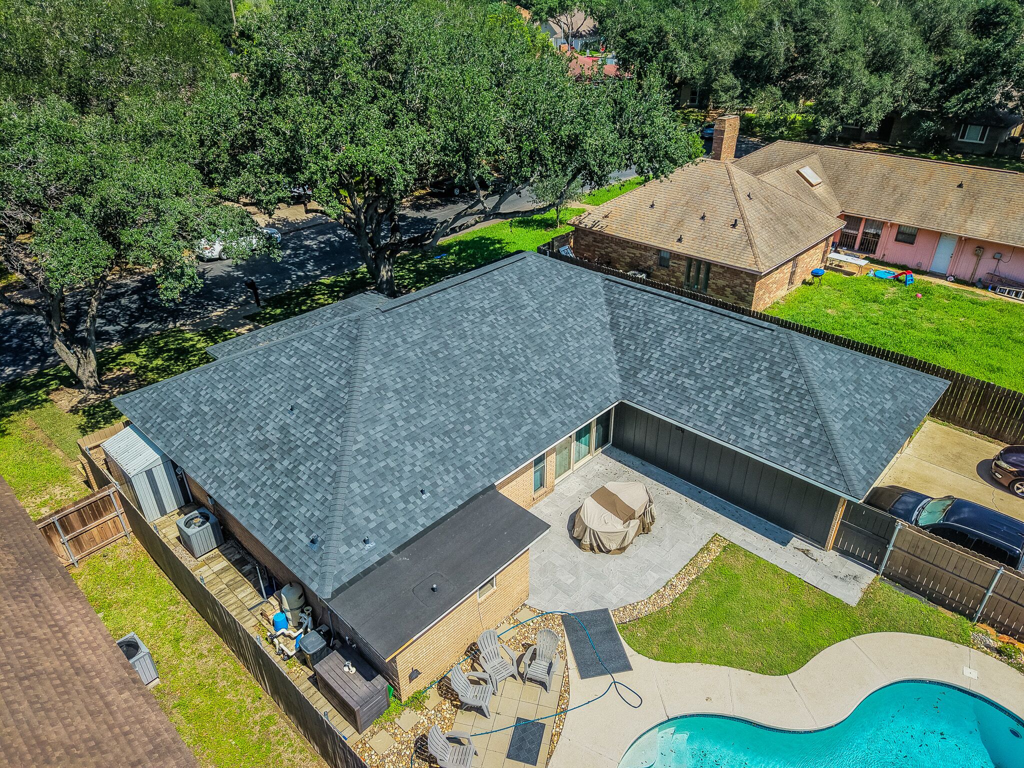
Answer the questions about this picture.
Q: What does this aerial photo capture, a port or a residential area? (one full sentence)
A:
It's a residential area.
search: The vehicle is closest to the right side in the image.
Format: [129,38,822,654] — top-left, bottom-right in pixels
[988,439,1024,494]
